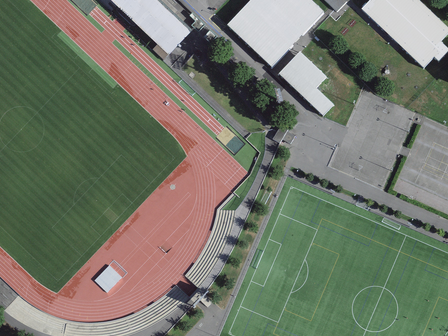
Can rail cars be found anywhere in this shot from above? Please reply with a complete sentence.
No, there appears to be no rail car in this shot.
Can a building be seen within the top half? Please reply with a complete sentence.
Yes, there is a building within the top half.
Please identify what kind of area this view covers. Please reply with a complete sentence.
What you see here is a sports ground.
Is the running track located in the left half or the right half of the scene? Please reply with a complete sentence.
The running track sits on the left side.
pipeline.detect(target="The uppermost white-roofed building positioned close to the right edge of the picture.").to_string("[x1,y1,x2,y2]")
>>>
[362,0,448,68]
